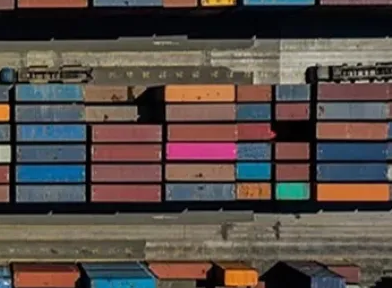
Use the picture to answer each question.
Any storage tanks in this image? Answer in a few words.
No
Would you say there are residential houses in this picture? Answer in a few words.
No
